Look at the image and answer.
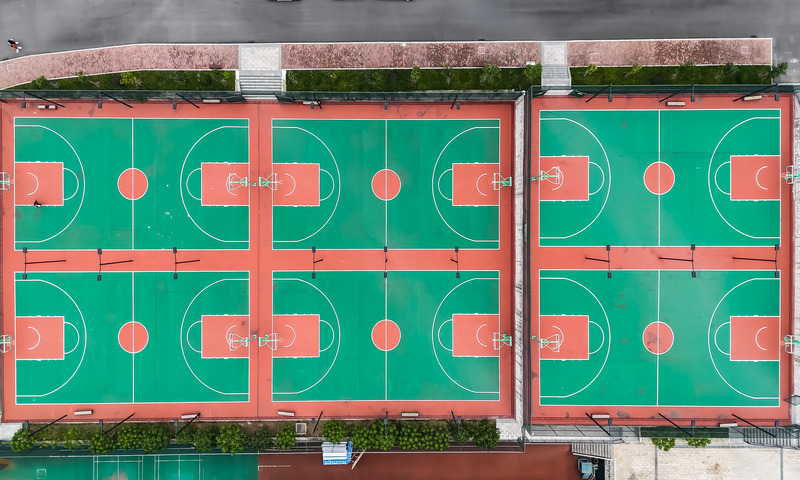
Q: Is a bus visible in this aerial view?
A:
No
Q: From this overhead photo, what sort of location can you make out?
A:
sports ground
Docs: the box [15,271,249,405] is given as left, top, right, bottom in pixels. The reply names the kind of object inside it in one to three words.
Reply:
basketball court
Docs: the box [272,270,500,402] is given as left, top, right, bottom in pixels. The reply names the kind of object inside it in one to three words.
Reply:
basketball court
